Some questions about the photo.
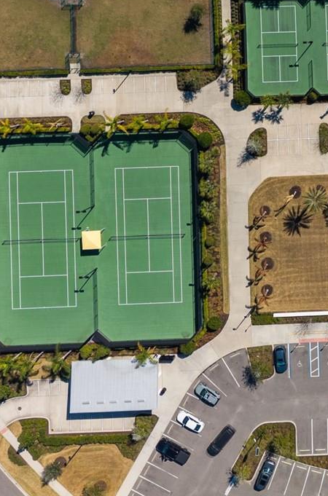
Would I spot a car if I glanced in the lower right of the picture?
Yes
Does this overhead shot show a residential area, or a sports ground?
sports ground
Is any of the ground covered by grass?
Yes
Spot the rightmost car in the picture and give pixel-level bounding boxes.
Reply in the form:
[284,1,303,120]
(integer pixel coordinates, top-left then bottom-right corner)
[273,345,287,374]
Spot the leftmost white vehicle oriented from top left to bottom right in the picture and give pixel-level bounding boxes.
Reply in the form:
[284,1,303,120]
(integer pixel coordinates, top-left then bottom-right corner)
[177,411,205,433]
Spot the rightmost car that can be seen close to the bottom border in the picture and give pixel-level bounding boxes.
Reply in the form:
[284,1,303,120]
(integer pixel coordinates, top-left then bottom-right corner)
[254,460,276,490]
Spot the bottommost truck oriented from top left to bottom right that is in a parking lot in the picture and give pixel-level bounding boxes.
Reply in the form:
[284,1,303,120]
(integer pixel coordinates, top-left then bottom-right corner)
[156,438,190,465]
